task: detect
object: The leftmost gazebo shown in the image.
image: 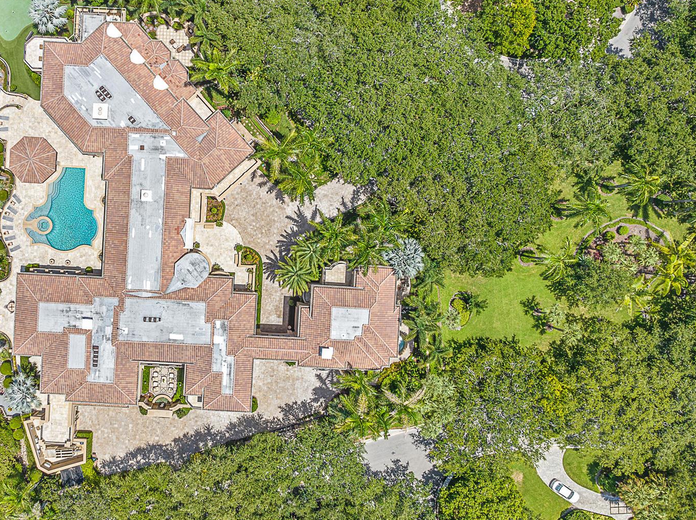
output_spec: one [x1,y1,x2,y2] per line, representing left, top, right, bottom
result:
[8,136,64,184]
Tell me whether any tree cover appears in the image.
Yes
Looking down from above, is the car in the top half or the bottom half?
bottom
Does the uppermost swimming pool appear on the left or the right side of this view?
left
